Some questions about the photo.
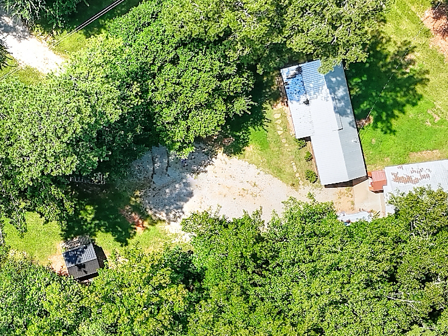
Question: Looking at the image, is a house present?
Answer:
Yes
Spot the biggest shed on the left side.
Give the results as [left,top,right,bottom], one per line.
[63,243,101,280]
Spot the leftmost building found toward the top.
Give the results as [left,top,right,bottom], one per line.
[277,55,368,185]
